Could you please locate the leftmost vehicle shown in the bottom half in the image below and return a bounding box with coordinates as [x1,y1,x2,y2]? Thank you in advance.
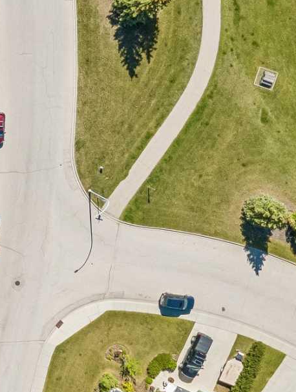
[158,292,193,312]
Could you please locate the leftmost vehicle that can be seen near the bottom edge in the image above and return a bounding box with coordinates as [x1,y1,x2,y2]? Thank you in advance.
[179,330,210,376]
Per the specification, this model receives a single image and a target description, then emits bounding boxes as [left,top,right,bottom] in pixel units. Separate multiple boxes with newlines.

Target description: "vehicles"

[158,292,193,312]
[179,330,210,376]
[0,112,6,146]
